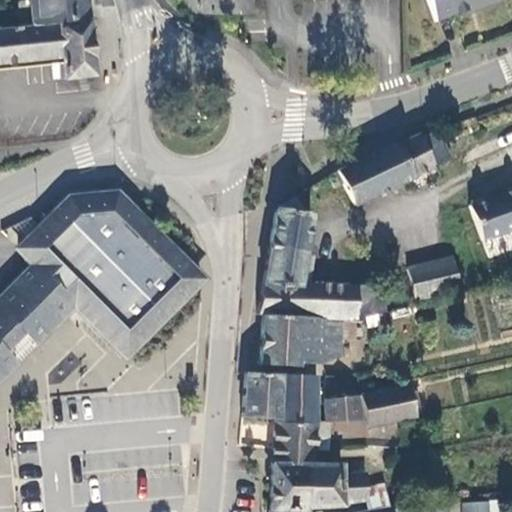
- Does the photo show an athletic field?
No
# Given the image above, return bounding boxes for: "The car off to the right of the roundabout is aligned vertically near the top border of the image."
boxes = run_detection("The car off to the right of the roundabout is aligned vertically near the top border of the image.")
[442,18,456,43]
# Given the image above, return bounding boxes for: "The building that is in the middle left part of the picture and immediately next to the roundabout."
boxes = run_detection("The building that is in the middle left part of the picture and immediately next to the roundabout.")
[0,190,207,382]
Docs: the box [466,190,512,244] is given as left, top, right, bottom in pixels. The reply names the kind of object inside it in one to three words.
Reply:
house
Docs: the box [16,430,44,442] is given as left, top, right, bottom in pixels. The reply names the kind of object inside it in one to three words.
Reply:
vehicle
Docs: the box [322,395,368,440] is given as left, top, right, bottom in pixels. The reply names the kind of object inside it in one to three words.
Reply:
building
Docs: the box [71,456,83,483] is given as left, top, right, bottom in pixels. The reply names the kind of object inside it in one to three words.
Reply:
vehicle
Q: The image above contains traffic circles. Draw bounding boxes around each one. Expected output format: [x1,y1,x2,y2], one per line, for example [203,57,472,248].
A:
[130,34,252,182]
